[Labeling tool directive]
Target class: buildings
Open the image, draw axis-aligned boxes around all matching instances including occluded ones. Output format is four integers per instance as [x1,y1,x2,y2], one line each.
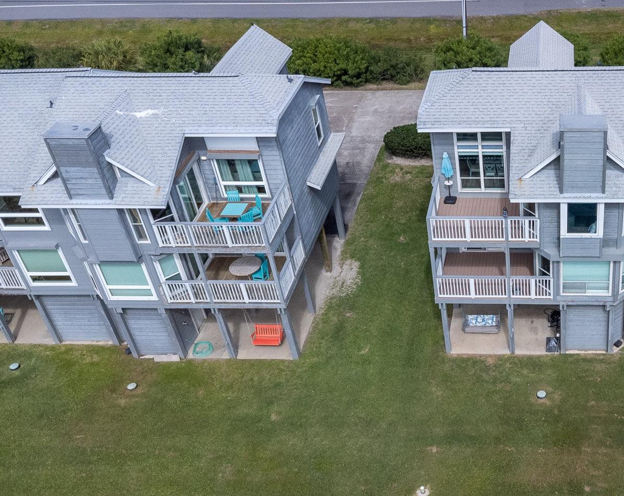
[20,25,349,358]
[416,20,624,353]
